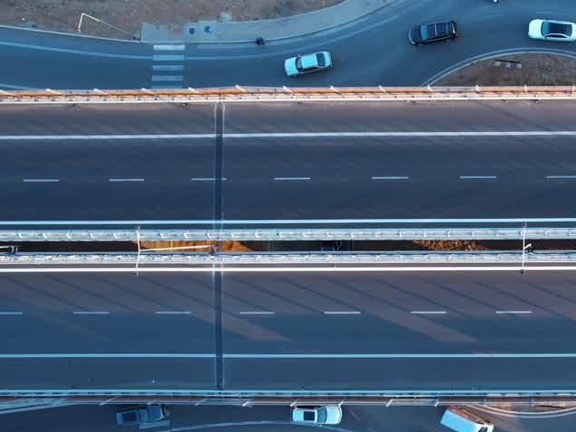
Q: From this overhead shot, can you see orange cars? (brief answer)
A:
No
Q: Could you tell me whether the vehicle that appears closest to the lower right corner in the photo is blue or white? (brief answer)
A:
blue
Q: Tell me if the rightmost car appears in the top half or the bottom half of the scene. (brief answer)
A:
top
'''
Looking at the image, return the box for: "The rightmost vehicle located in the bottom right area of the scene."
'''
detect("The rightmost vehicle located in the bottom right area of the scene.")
[439,406,493,432]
